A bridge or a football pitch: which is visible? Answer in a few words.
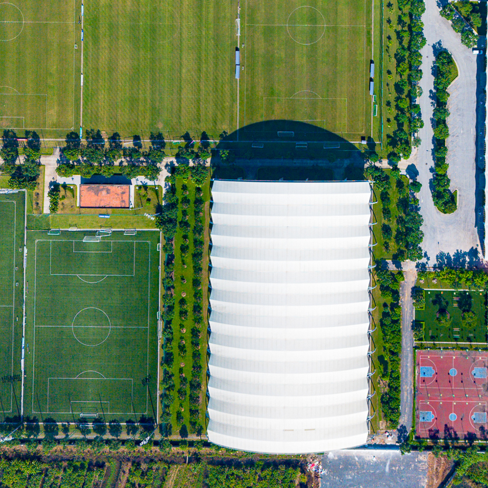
football pitch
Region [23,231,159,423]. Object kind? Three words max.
soccer field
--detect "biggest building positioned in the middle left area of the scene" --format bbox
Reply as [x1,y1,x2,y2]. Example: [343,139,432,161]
[80,184,134,211]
